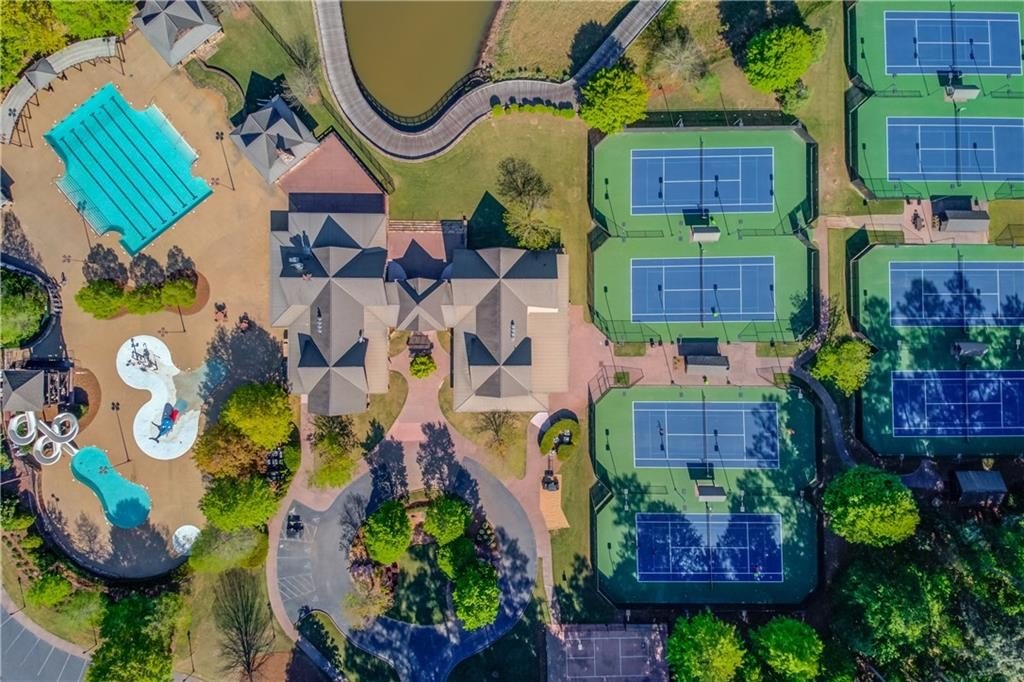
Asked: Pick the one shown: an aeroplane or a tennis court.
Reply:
tennis court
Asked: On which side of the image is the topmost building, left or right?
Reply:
left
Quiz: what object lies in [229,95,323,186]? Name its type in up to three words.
building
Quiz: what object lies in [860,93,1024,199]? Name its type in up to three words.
tennis court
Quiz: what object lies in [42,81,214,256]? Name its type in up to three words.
swimming pool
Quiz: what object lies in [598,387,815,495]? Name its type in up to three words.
tennis court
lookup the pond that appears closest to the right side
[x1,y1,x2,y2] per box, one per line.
[341,0,497,134]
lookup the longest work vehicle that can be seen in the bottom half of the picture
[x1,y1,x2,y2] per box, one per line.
[542,454,557,490]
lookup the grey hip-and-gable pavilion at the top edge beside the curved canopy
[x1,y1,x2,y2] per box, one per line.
[132,0,227,72]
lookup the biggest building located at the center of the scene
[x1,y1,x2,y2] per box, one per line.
[271,213,569,416]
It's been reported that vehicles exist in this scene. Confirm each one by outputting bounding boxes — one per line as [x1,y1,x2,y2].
[542,454,557,490]
[285,526,304,538]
